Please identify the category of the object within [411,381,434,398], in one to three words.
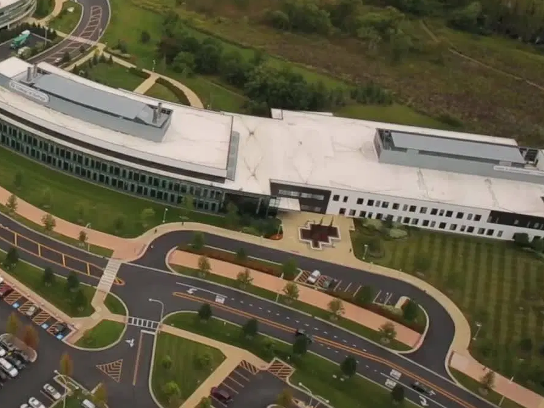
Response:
car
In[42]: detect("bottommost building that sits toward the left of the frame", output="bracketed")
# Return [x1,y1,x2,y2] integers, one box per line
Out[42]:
[0,56,270,221]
